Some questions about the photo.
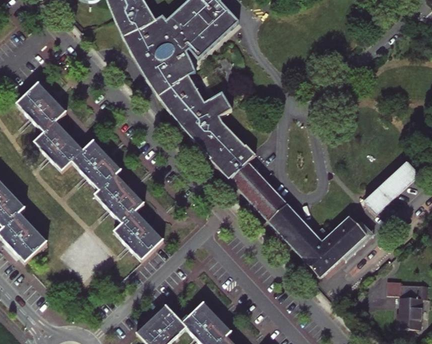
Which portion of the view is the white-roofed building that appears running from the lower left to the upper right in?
right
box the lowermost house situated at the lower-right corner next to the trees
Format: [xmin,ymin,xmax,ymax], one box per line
[386,283,428,332]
